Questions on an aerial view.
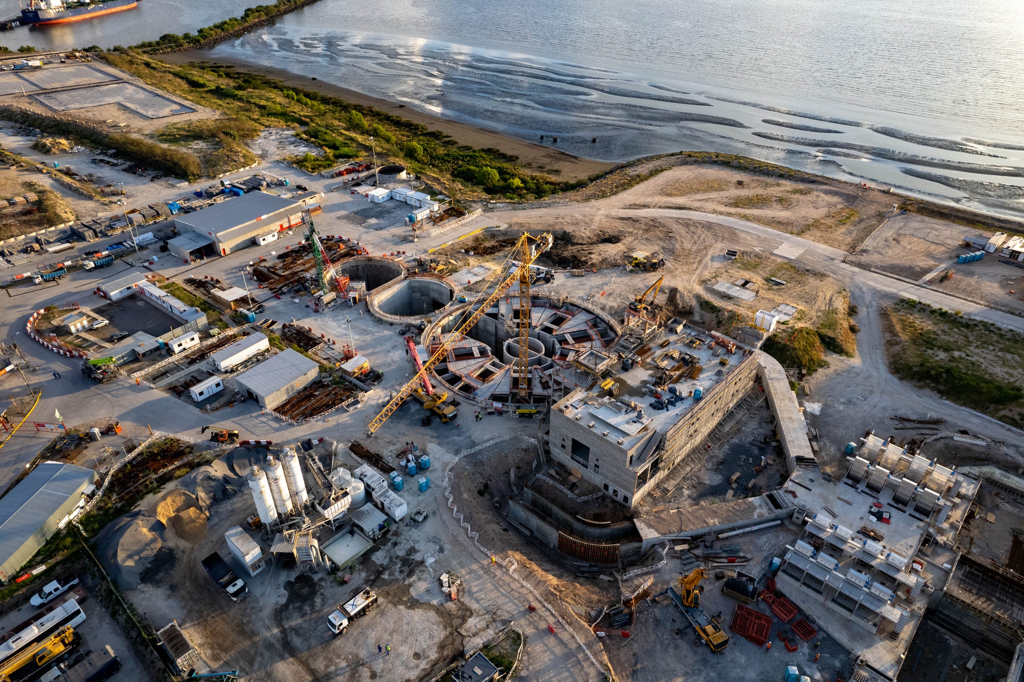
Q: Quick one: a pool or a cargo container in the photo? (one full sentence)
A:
The image shows a cargo container.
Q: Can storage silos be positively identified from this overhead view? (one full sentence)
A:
Yes, I can see a storage silo in this picture.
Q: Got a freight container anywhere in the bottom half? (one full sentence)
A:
Yes, looking in the bottom half, one can make out a freight container.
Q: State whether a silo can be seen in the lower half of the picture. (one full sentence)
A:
Yes, a silo appears in the lower half of the picture.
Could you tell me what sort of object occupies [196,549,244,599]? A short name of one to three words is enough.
truck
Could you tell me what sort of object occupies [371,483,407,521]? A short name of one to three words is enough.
shipping container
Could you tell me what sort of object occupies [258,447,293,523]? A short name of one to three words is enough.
silo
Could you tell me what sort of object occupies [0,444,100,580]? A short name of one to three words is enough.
building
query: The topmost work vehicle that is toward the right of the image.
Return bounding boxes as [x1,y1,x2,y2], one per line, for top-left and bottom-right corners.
[637,258,667,273]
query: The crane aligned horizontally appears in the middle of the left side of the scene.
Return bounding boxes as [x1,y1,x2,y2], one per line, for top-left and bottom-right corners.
[72,361,117,383]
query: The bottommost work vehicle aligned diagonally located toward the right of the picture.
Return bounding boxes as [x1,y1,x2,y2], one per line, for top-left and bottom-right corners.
[626,275,664,317]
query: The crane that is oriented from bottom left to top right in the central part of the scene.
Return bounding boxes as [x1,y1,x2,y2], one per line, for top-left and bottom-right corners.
[363,234,563,443]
